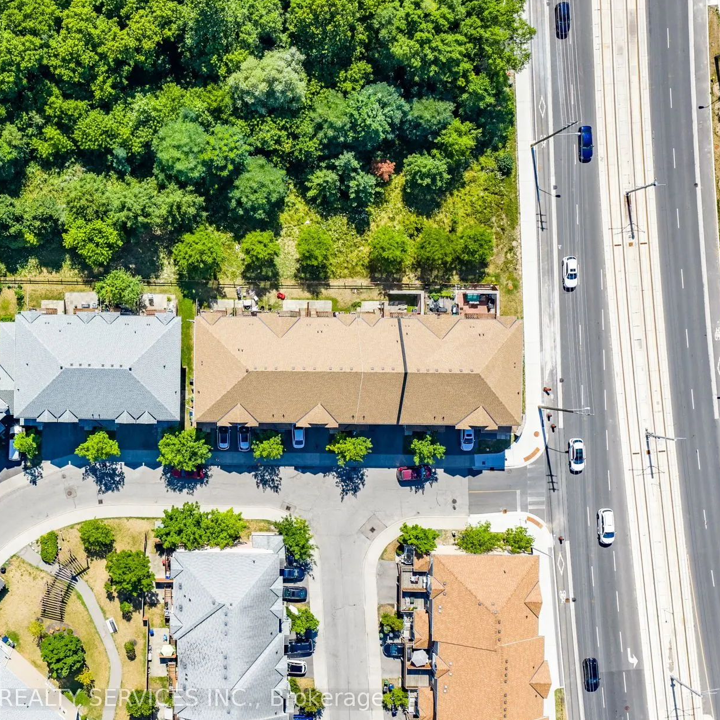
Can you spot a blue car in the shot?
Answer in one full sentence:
Yes, the frame does contain a blue car.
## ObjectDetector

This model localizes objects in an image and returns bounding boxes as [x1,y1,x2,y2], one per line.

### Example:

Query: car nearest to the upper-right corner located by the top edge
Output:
[553,0,572,38]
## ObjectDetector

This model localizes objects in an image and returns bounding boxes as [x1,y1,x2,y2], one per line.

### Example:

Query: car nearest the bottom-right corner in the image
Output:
[581,655,601,692]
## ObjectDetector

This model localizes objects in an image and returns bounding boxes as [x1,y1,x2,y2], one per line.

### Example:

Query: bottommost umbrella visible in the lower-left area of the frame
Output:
[160,642,175,658]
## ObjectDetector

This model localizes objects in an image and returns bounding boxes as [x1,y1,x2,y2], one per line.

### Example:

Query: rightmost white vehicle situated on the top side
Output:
[560,254,579,289]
